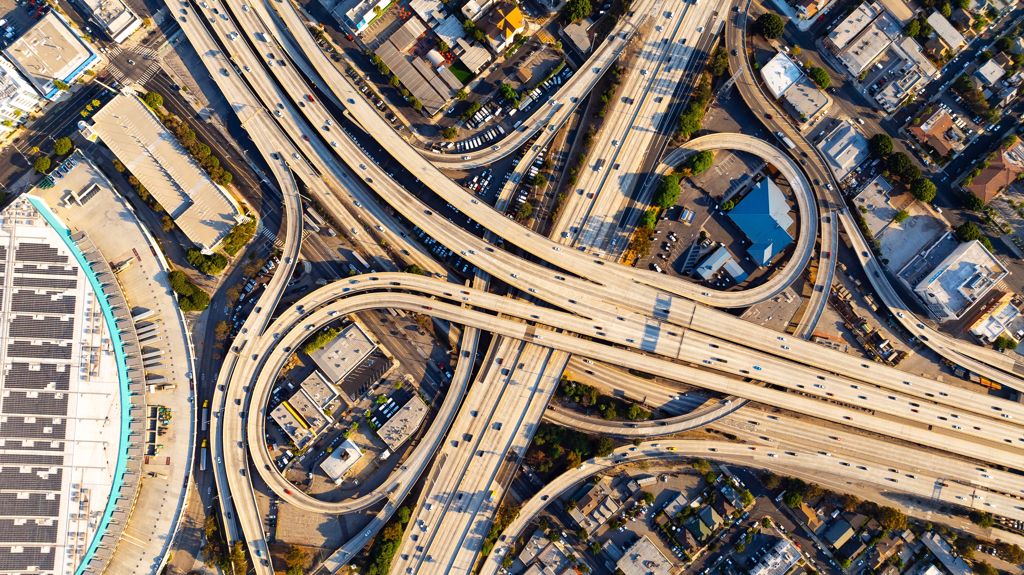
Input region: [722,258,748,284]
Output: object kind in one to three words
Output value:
shed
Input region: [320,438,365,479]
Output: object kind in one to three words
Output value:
building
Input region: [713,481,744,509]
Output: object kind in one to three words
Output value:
house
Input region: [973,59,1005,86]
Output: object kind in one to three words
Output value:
house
